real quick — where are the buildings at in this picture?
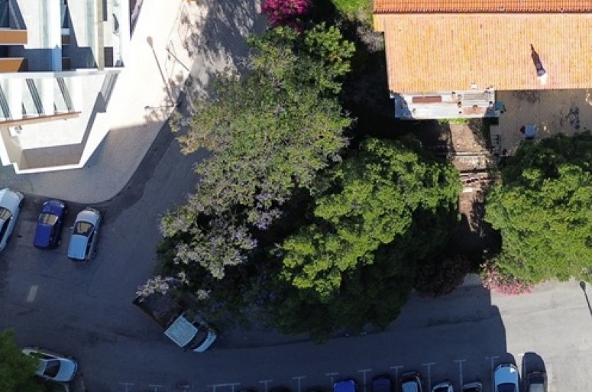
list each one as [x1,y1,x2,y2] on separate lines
[372,0,592,92]
[0,0,143,173]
